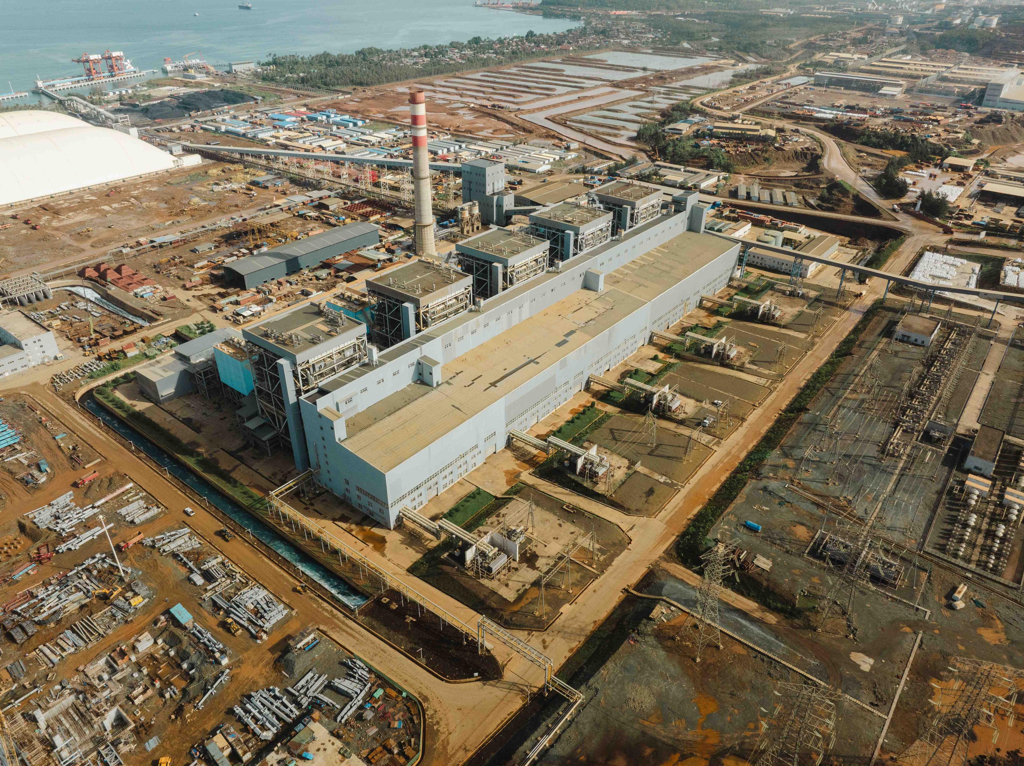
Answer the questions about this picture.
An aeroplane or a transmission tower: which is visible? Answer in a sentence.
Visible in the photo is a transmission tower.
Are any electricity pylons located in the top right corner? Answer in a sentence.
No, there is no electricity pylon in the top right corner.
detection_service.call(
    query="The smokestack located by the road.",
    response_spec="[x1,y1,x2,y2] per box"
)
[408,90,435,257]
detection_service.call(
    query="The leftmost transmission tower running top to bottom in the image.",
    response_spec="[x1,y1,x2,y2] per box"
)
[679,526,727,662]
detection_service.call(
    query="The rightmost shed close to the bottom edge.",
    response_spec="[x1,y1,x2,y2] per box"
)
[288,726,316,758]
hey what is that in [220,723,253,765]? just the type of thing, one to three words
shed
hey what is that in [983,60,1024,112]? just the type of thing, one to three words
building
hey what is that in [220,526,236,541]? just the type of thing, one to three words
work vehicle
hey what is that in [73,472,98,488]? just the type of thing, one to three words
vehicle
